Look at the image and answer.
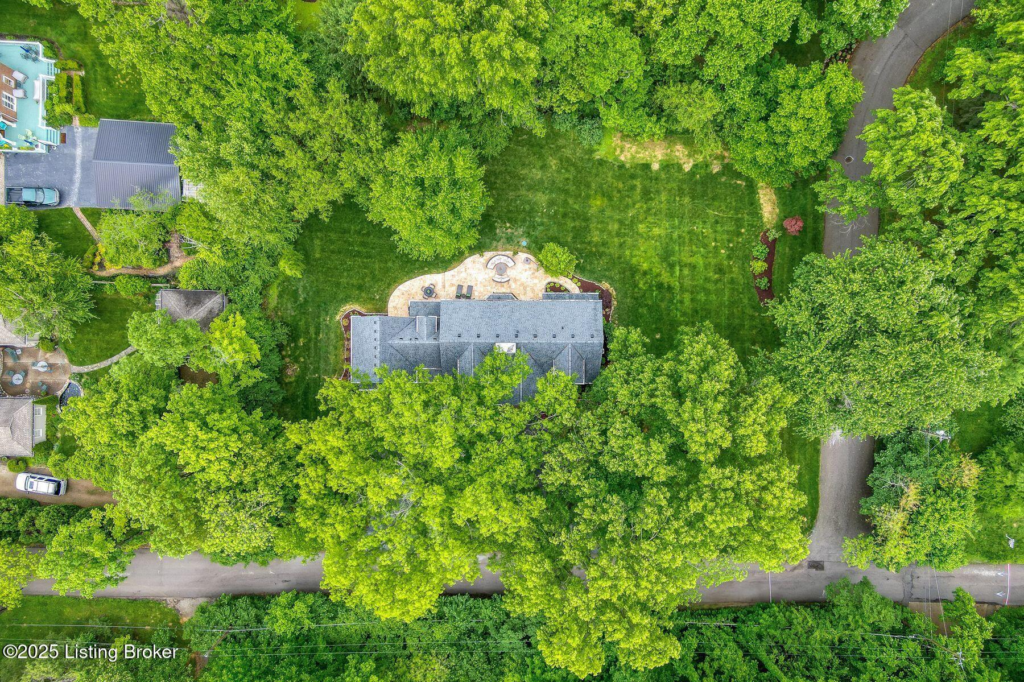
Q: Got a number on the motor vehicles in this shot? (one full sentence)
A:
There are 2 motor vehicles in the image.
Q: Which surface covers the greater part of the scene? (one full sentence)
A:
What you mostly see from above here is trees.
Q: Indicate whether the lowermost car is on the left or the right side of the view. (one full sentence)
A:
The lowermost car sits on the left side.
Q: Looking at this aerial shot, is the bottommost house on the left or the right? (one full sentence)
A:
The bottommost house appears in the left half of the scene.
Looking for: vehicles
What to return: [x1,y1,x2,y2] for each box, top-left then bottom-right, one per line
[5,185,61,208]
[16,471,70,497]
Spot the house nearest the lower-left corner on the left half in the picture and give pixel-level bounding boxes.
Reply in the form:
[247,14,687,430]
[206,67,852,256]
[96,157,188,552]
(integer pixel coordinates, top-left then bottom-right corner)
[0,397,46,456]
